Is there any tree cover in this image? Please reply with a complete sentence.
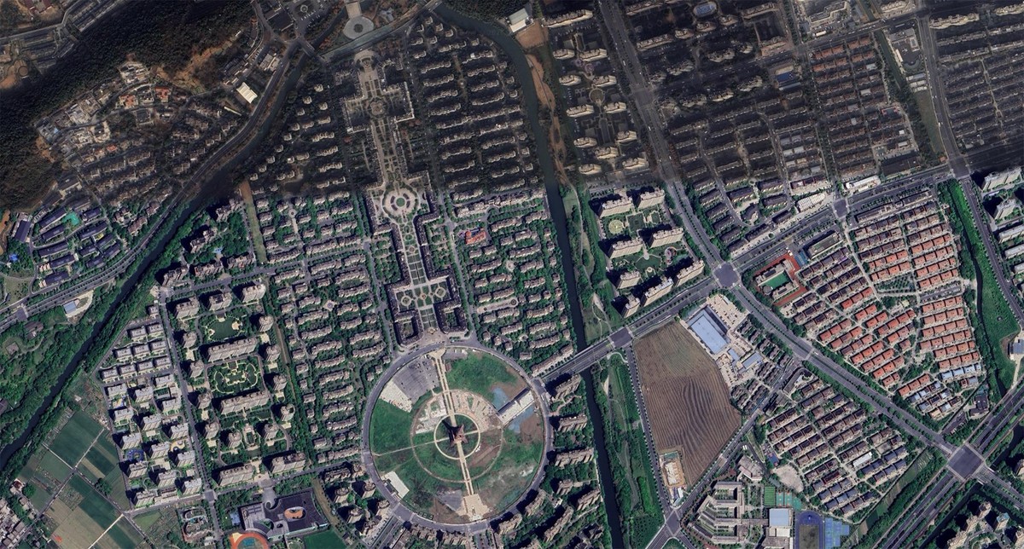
Yes, the picture does contain tree cover.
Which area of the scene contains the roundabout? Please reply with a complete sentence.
The roundabout is in the bottom part of the image.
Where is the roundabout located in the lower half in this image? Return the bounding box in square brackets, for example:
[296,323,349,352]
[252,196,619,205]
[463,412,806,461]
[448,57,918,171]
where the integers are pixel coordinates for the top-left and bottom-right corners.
[362,342,552,531]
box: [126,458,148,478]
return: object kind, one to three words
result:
building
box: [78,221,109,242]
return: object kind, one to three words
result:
building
